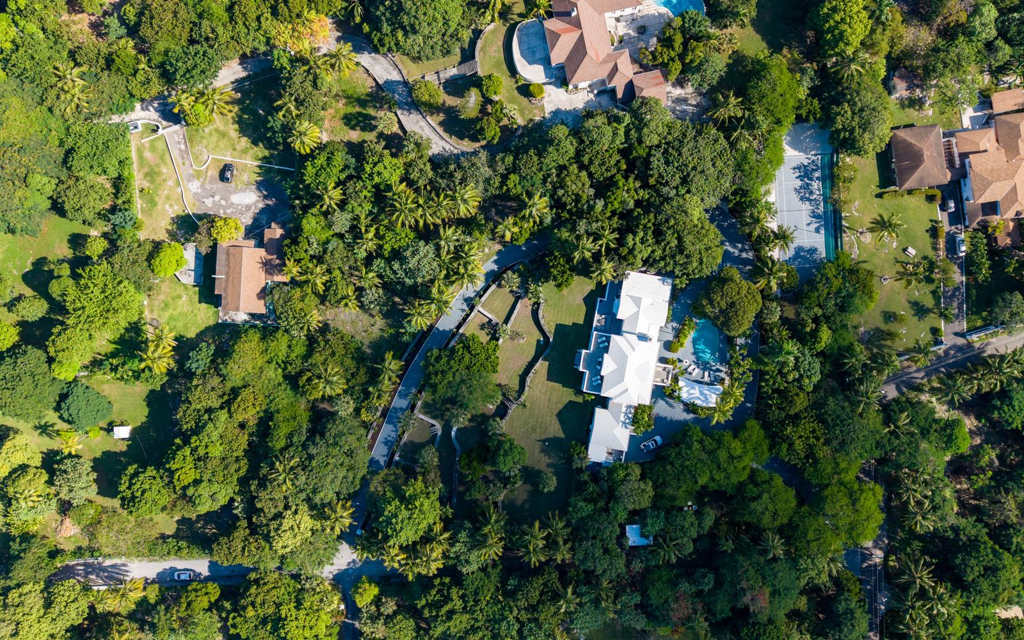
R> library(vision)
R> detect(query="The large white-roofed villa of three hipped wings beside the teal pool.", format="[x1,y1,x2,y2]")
[578,271,673,469]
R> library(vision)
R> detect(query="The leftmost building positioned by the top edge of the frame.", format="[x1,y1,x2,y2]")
[543,0,667,115]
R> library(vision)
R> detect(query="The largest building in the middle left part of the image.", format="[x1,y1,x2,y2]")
[212,222,291,314]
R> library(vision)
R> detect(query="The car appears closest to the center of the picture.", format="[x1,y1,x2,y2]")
[640,435,664,453]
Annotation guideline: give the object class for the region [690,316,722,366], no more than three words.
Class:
swimming pool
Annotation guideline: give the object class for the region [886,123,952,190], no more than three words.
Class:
house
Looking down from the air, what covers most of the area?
trees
